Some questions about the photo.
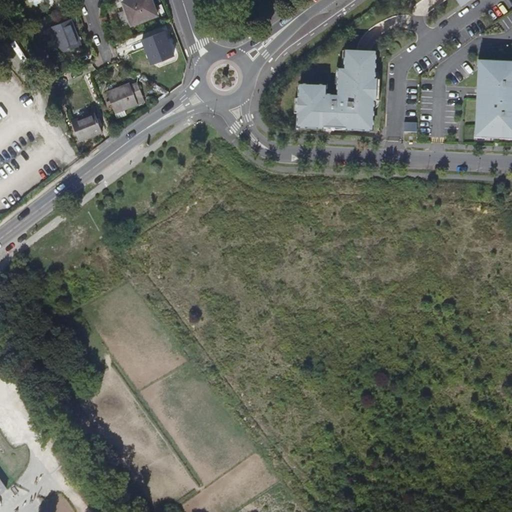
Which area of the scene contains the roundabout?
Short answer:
top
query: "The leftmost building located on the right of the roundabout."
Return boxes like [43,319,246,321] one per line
[294,50,380,132]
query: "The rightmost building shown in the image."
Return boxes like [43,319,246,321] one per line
[476,60,512,140]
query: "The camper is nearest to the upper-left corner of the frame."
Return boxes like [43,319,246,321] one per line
[12,42,28,60]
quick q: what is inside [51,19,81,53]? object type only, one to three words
house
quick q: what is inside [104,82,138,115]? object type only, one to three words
house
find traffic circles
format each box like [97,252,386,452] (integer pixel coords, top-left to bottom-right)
[186,50,256,118]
